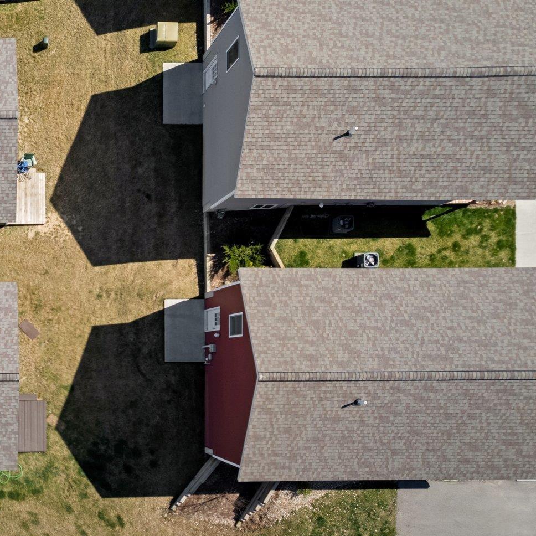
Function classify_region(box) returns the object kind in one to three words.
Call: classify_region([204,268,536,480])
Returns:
house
